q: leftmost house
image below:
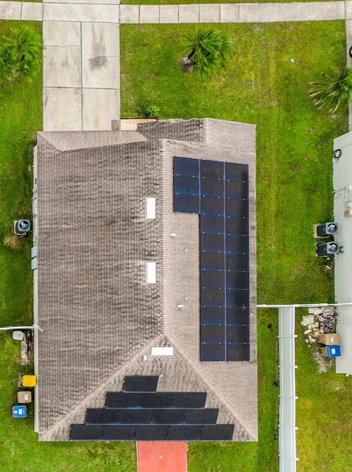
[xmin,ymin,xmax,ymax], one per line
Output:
[30,118,258,442]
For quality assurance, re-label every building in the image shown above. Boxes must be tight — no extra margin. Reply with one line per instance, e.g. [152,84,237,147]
[30,118,258,442]
[335,134,352,375]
